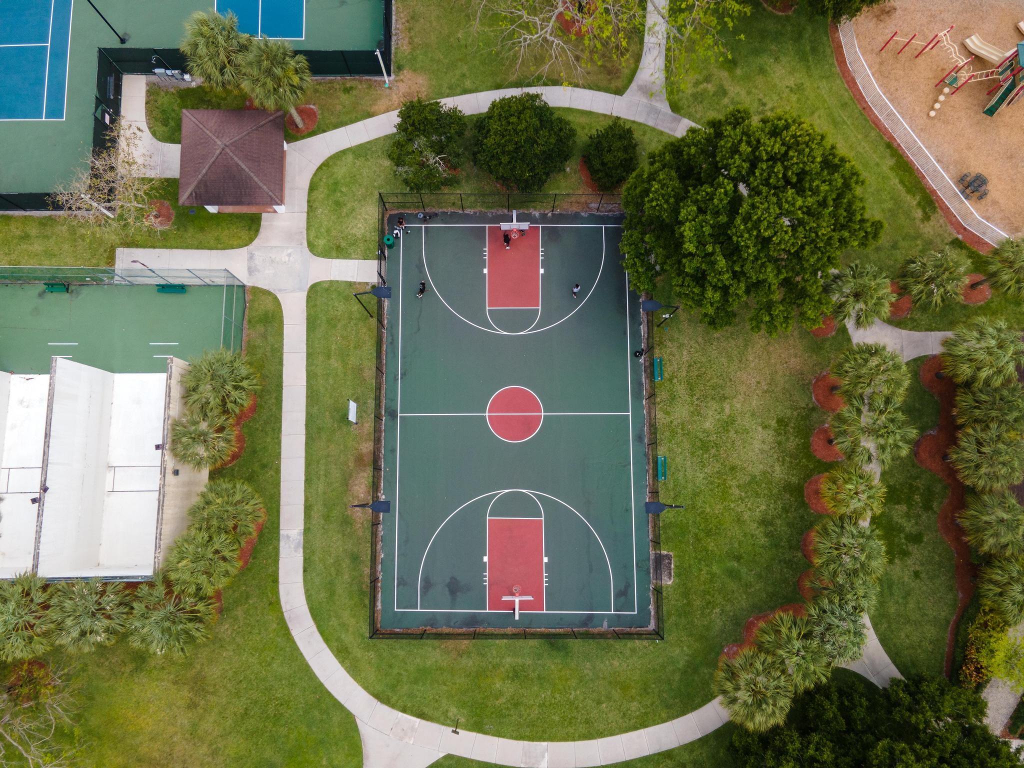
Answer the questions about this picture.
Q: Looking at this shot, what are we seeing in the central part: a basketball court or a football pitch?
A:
basketball court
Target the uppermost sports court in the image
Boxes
[215,0,304,39]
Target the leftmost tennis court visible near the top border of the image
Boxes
[0,0,73,121]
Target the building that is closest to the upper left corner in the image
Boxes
[178,109,286,213]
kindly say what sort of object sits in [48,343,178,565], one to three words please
sports court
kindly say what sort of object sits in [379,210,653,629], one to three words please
basketball court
